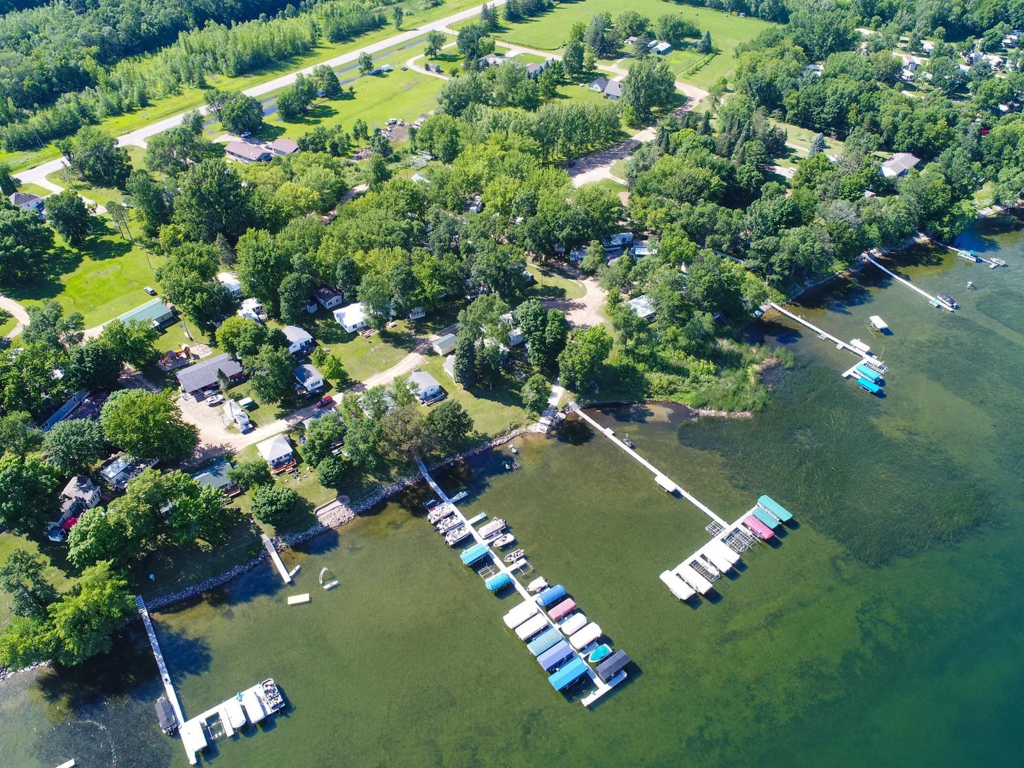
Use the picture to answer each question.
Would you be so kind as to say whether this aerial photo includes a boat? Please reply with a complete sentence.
Yes, there's a boat here.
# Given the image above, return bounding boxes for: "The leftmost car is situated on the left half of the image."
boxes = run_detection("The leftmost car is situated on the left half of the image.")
[142,284,158,297]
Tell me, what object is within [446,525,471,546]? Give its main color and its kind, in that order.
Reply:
white boat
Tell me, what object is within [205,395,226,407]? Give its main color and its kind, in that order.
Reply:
white vehicle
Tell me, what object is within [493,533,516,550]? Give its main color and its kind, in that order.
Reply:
white boat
